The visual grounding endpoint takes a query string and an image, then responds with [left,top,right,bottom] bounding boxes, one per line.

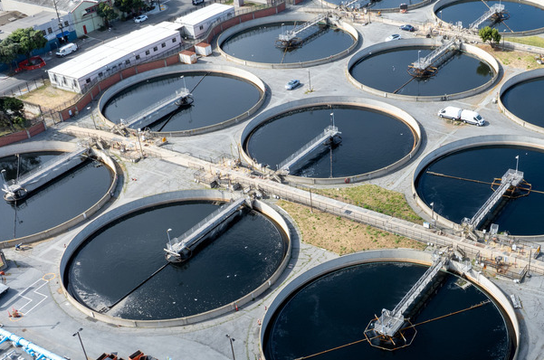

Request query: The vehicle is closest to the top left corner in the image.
[58,43,71,57]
